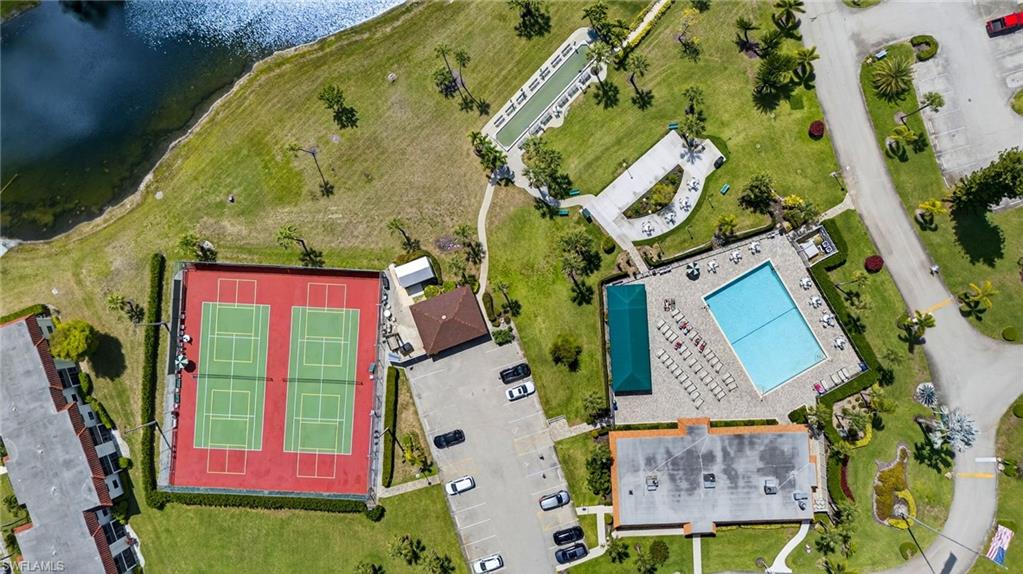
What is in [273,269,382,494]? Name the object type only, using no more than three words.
tennis court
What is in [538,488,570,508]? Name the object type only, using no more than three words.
car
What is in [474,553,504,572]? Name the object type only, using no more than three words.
car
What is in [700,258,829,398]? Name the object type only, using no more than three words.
swimming pool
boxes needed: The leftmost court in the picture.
[174,266,283,490]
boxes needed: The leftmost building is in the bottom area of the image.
[0,314,133,574]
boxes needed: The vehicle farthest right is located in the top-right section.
[981,9,1023,33]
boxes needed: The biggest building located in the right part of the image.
[609,417,817,536]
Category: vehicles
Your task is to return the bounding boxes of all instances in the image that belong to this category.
[981,9,1023,33]
[434,428,466,447]
[553,542,587,562]
[552,524,584,545]
[538,488,570,508]
[446,475,476,494]
[474,553,504,572]
[505,382,535,400]
[499,363,531,382]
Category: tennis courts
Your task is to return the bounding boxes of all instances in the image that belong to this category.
[174,266,283,490]
[273,269,382,494]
